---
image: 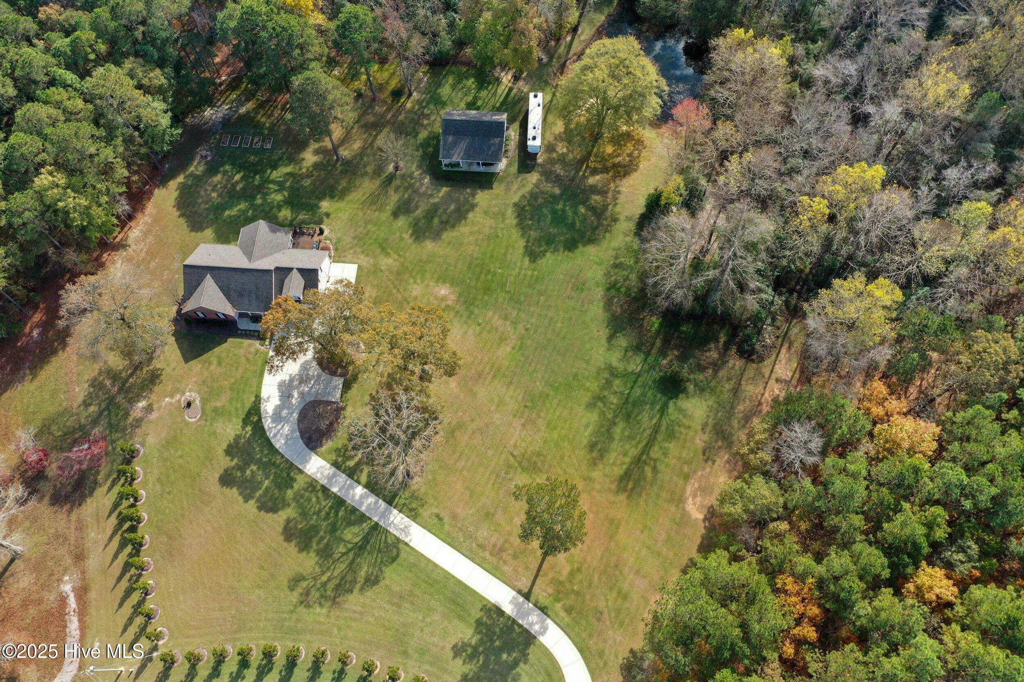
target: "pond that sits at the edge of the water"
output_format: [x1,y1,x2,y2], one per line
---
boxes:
[586,5,724,125]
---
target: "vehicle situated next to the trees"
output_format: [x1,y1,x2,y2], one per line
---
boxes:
[527,92,542,156]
